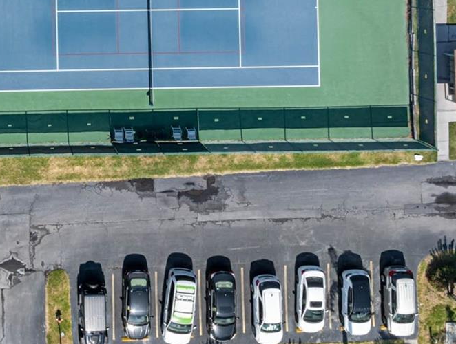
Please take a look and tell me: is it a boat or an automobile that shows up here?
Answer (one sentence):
The one in the frame is an automobile.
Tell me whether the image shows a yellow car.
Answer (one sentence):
No, the picture doesn't show any yellow car.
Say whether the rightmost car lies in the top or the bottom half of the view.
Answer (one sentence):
The rightmost car is in the bottom half of the image.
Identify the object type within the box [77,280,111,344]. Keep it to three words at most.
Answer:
vehicle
